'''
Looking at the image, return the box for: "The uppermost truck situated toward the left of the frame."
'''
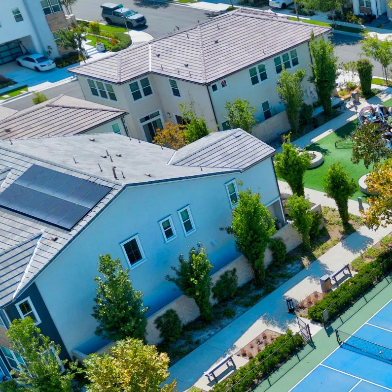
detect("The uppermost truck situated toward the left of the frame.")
[100,5,146,28]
